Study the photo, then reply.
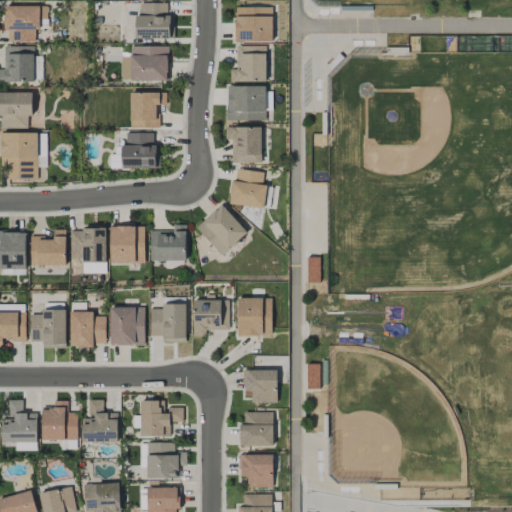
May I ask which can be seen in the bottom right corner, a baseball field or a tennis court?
baseball field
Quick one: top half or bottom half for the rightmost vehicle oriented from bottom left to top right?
top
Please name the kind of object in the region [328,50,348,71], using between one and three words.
vehicle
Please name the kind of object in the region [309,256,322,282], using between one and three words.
building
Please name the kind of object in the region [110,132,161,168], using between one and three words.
house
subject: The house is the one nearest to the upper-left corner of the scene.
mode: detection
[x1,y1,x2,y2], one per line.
[4,5,49,42]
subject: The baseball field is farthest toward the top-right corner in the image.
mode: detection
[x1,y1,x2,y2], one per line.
[329,52,512,292]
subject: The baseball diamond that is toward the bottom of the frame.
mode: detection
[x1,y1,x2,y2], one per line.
[330,346,467,484]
